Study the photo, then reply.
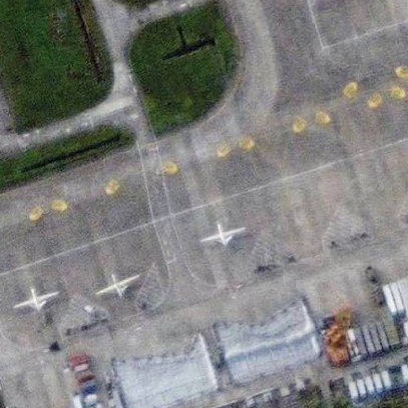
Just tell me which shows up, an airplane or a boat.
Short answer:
airplane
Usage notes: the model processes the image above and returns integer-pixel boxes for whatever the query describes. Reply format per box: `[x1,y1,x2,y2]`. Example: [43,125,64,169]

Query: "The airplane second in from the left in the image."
[95,276,141,299]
